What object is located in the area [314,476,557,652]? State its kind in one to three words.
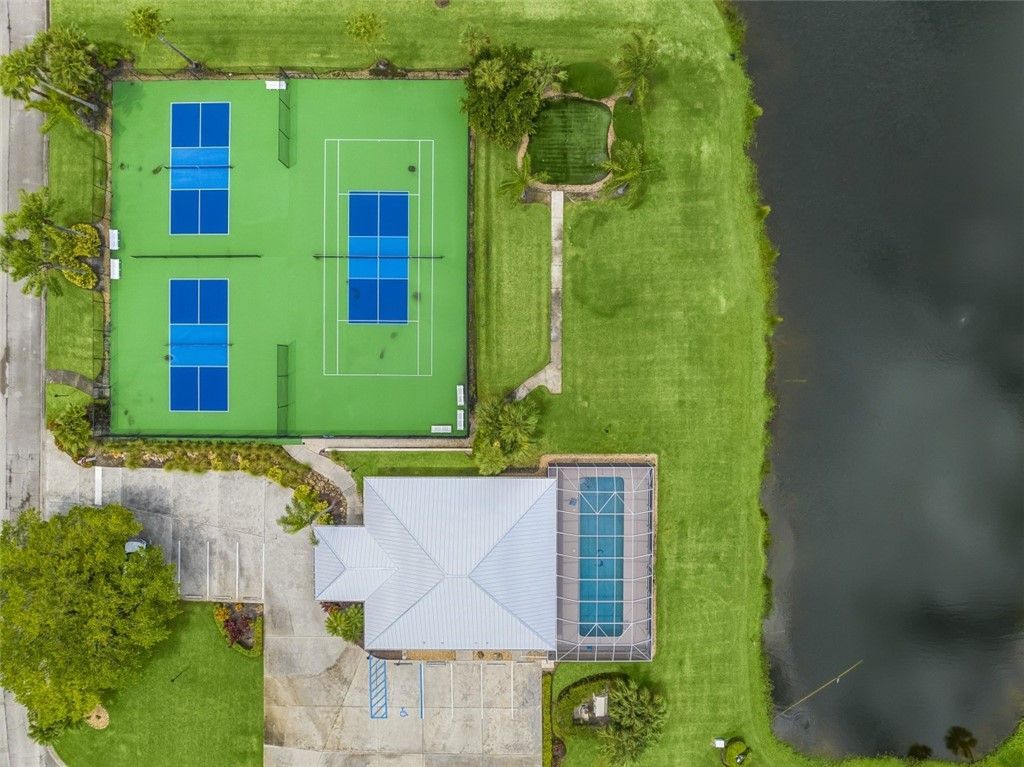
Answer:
building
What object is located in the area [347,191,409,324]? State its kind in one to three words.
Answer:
sports court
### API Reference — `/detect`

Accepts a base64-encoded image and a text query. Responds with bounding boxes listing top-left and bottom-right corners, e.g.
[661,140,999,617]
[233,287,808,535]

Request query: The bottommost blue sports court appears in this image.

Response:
[168,279,229,412]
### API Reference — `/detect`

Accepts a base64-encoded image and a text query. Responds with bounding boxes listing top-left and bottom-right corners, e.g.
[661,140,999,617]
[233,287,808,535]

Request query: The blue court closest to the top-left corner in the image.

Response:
[170,102,231,235]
